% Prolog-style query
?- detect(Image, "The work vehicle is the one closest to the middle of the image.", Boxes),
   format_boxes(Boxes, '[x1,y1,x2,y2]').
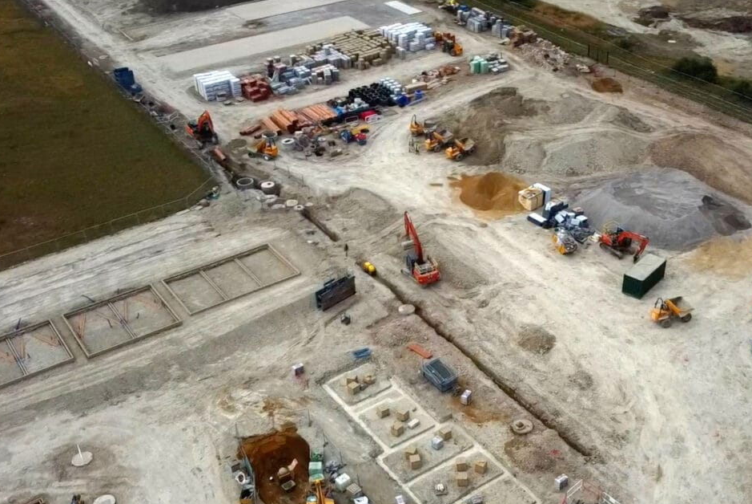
[402,210,438,286]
